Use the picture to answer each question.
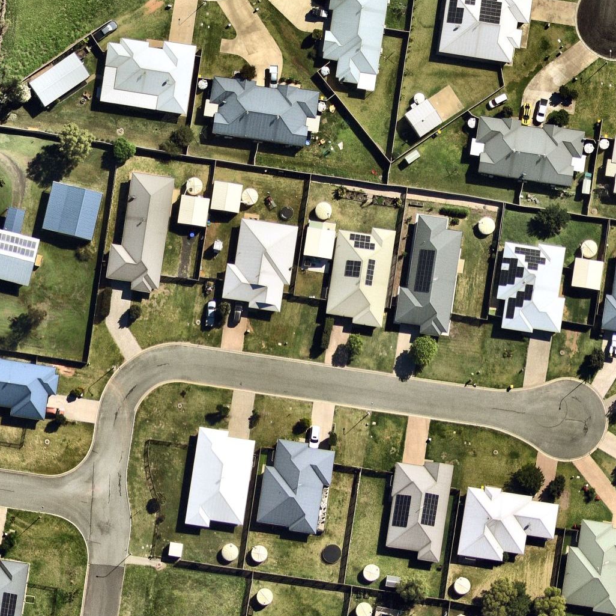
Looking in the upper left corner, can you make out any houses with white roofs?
Yes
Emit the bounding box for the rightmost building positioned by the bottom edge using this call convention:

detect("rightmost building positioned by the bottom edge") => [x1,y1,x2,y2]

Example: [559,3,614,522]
[563,519,616,615]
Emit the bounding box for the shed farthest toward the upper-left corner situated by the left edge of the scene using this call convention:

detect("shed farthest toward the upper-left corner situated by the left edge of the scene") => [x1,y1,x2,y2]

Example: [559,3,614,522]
[28,53,89,107]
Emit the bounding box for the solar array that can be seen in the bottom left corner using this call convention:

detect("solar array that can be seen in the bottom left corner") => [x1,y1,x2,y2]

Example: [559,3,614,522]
[0,593,16,616]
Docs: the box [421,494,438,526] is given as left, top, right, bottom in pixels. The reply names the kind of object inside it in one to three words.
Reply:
solar array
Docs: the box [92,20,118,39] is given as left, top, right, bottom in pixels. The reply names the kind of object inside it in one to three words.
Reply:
vehicle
